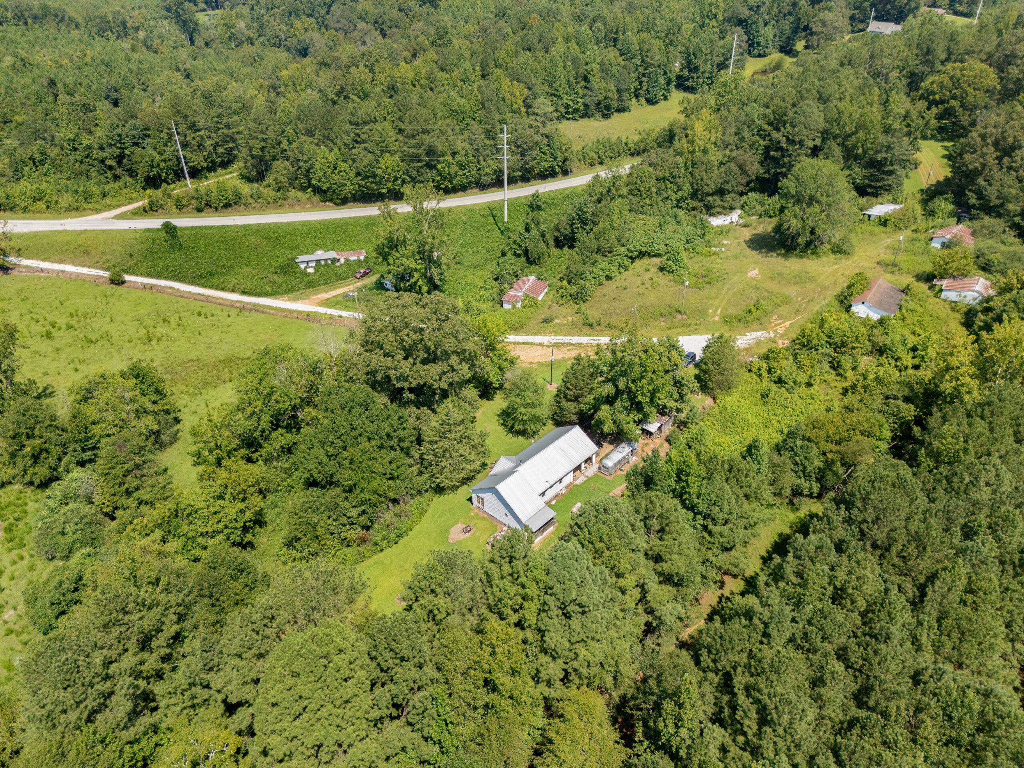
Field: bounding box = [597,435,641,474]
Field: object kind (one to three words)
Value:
trailer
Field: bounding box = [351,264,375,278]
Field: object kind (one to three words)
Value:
vehicle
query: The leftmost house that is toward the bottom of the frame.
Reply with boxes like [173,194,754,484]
[472,424,600,544]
